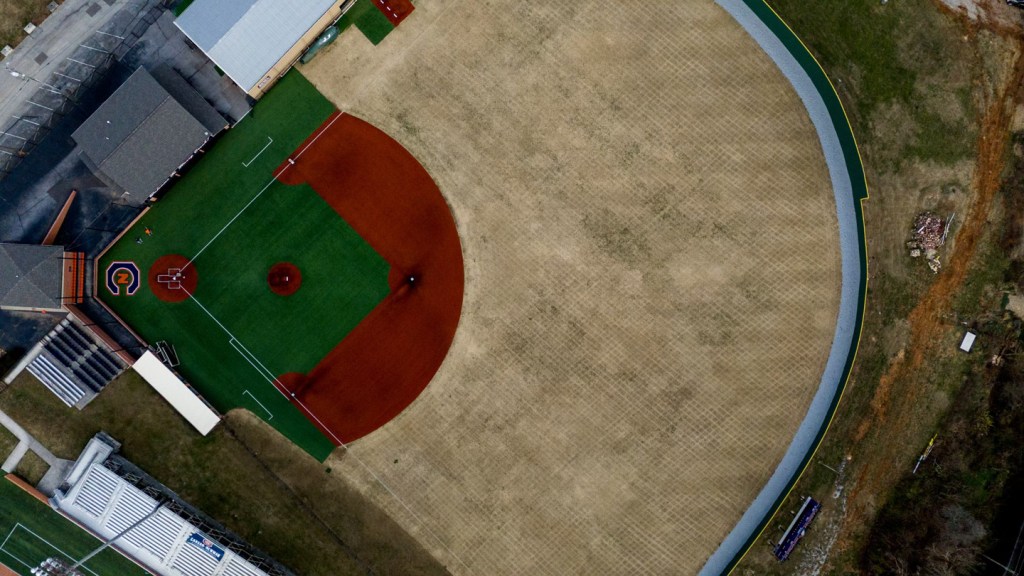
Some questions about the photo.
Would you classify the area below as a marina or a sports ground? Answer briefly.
sports ground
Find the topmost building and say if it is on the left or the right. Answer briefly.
left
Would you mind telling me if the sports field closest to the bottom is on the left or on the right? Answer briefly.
left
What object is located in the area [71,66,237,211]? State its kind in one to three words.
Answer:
building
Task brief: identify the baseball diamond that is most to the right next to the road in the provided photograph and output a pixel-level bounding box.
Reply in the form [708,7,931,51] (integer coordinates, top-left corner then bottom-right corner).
[99,0,860,576]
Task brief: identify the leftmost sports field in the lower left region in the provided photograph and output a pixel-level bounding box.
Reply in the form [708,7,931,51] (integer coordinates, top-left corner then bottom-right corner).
[0,472,152,576]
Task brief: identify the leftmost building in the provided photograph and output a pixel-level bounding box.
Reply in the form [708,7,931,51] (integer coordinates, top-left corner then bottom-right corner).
[0,244,78,315]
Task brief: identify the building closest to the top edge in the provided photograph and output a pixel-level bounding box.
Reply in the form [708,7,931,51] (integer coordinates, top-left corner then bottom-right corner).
[171,0,359,98]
